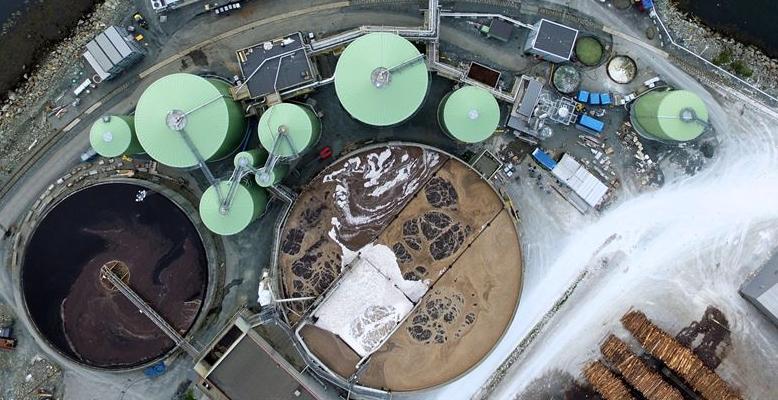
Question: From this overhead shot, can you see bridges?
Yes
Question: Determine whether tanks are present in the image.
Yes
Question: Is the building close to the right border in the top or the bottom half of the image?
bottom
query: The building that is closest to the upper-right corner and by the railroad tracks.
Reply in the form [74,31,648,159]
[525,19,578,62]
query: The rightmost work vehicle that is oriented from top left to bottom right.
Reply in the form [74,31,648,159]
[135,11,153,30]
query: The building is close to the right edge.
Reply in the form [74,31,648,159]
[740,250,778,322]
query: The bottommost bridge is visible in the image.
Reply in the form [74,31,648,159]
[99,262,207,364]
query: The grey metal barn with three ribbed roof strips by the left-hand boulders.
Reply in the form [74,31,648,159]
[84,25,145,81]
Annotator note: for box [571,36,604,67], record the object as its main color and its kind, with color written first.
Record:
green storage tank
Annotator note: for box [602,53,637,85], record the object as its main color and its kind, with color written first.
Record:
white storage tank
